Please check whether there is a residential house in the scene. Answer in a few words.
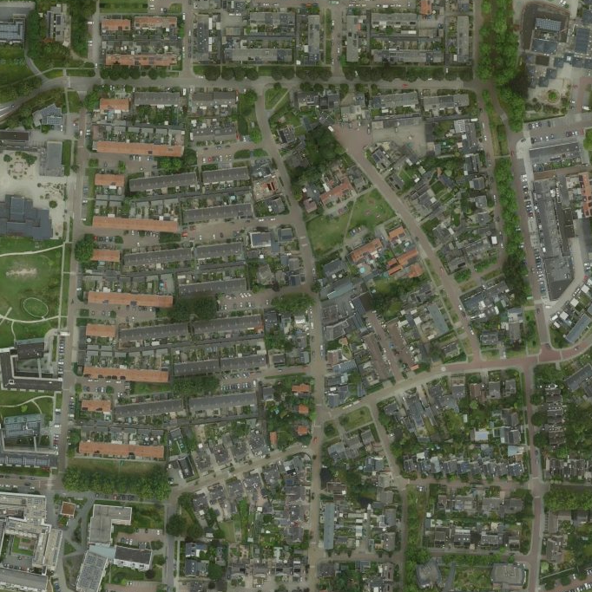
Yes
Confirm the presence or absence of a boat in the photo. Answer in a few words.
No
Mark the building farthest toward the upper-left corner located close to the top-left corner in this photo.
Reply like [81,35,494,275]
[0,18,26,44]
